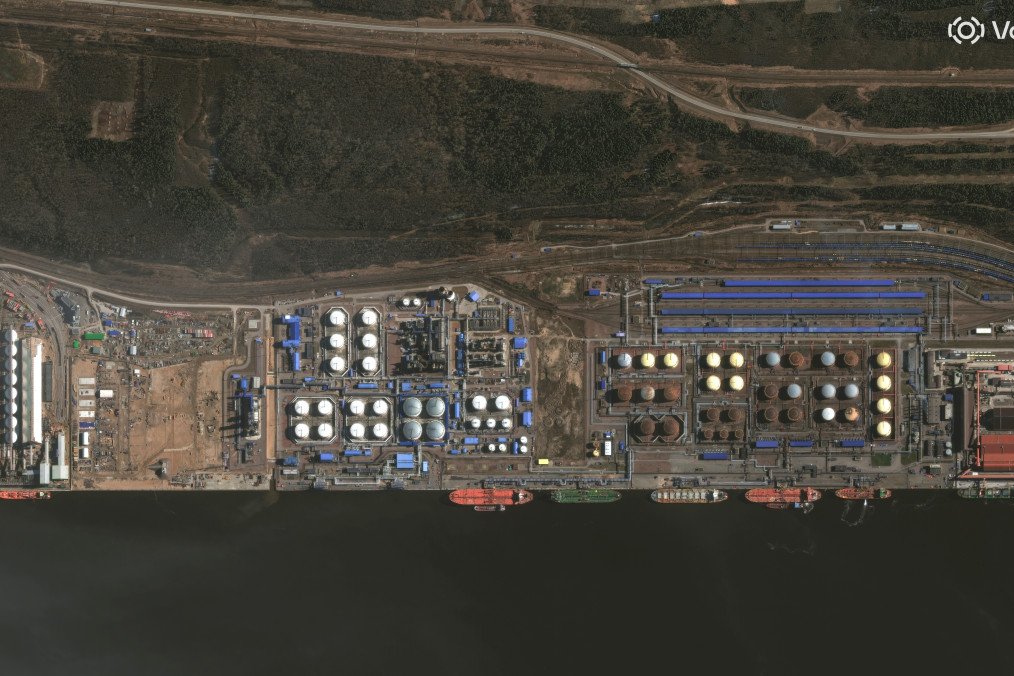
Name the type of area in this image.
port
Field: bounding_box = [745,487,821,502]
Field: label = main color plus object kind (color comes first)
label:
red ship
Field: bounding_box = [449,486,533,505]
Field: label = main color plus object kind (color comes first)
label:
red ship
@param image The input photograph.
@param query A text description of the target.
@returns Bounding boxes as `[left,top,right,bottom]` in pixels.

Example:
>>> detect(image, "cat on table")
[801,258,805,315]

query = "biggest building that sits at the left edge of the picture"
[22,338,42,443]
